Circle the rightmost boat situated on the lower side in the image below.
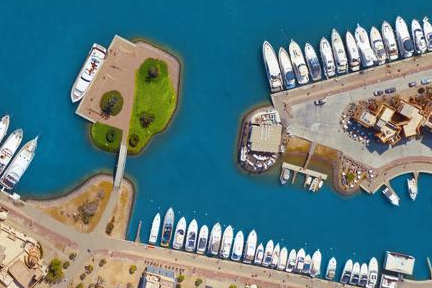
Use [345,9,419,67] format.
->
[405,176,417,199]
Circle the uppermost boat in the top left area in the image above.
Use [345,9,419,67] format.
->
[72,43,107,102]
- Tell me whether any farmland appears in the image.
No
